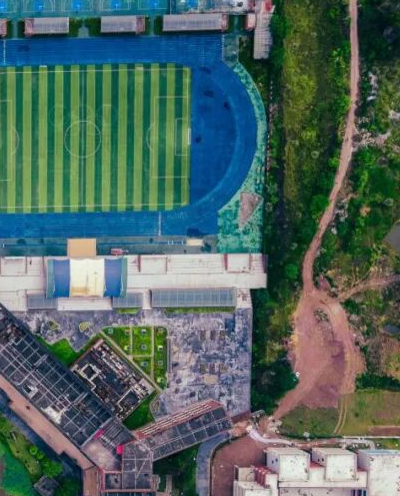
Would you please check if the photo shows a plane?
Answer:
No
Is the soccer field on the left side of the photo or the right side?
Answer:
left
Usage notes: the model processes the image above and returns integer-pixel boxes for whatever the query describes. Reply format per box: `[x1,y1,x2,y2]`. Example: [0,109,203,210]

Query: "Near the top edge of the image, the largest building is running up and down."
[250,7,273,61]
